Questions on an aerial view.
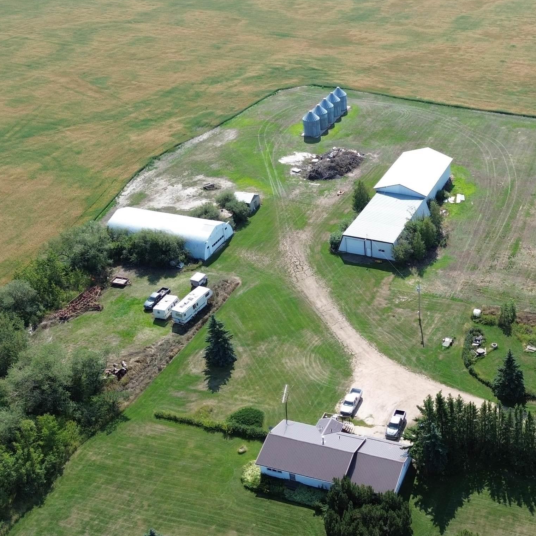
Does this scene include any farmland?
Yes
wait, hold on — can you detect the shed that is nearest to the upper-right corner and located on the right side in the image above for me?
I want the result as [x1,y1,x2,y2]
[374,148,450,216]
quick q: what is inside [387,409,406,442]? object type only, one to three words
vehicle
